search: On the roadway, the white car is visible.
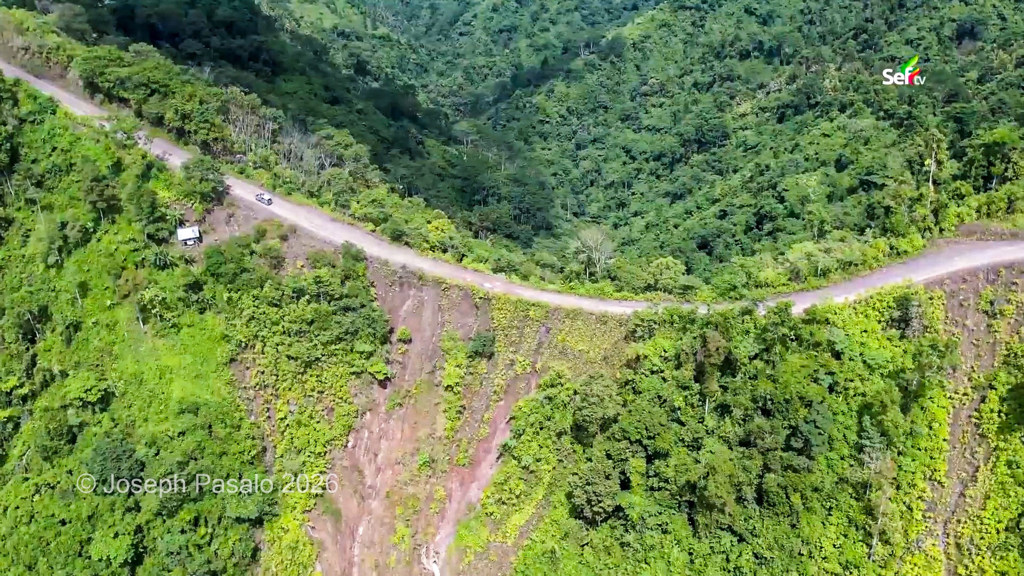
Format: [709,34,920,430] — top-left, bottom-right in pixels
[252,194,273,208]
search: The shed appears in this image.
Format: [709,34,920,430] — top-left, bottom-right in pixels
[174,224,200,249]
